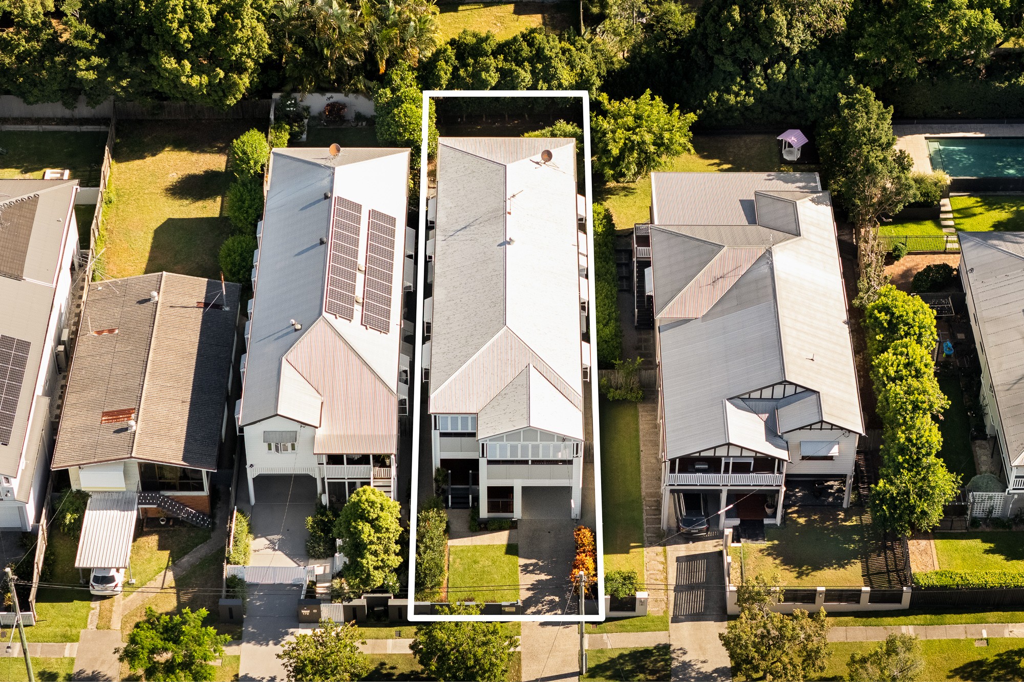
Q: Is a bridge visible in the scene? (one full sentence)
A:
No, there's no bridge here.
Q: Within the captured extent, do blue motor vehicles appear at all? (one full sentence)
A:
No, there isn't any blue motor vehicle down there.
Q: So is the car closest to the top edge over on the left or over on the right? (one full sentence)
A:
You can find the car closest to the top edge on the right side of the picture.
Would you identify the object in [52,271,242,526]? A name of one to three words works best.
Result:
house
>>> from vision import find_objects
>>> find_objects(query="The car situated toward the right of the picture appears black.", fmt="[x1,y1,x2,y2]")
[674,497,711,532]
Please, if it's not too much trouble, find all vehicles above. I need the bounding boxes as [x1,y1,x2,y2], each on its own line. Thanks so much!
[674,497,711,532]
[87,570,125,599]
